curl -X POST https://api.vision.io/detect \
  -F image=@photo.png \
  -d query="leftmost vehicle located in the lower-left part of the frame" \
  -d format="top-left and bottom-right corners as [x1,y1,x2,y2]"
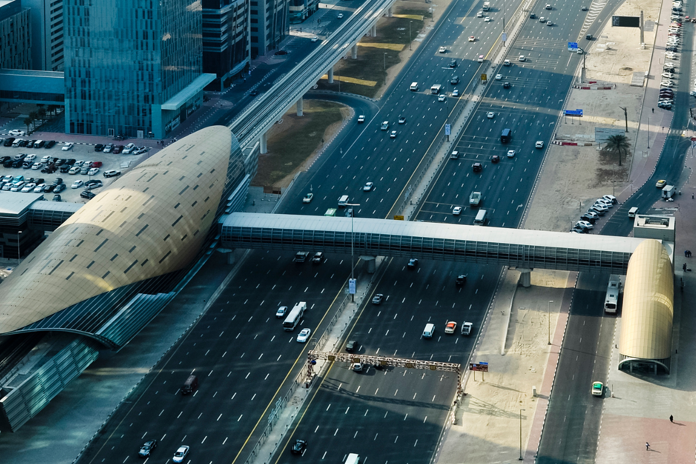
[138,439,162,454]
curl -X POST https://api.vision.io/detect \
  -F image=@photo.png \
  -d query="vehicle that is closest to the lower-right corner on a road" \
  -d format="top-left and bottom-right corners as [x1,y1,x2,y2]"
[593,379,607,393]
